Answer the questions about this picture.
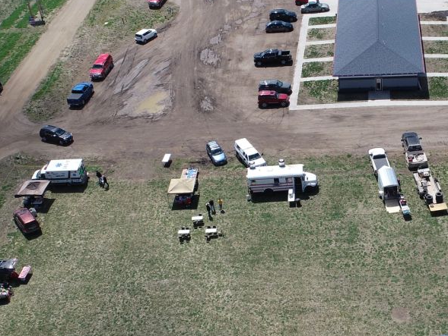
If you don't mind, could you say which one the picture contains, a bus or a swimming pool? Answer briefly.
bus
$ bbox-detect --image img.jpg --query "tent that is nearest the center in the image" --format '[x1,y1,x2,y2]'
[168,179,197,208]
